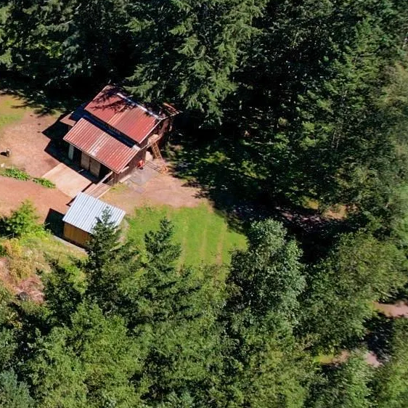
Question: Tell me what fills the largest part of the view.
trees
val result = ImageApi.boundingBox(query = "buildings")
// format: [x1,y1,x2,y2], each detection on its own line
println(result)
[62,192,125,252]
[62,82,178,190]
